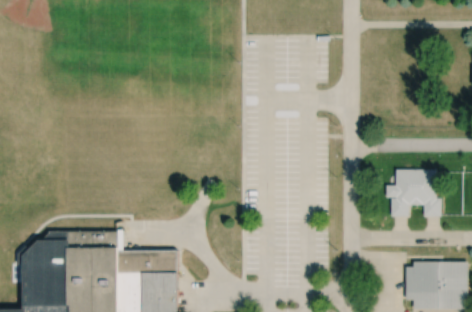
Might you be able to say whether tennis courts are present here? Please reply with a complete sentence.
No, there is no tennis court in the image.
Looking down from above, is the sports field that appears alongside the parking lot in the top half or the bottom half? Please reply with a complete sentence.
The top half of the photo is where the sports field that appears alongside the parking lot is.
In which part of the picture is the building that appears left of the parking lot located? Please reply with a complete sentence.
You can find the building that appears left of the parking lot in the bottom left area of the picture.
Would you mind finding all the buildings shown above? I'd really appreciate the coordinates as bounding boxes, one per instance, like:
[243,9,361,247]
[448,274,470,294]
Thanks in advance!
[0,228,178,312]
[388,168,442,216]
[406,260,470,310]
